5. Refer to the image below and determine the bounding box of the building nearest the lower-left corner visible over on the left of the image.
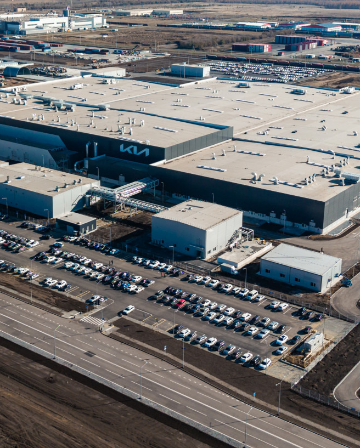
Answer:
[56,213,98,236]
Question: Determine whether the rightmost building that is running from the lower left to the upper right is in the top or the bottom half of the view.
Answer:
bottom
